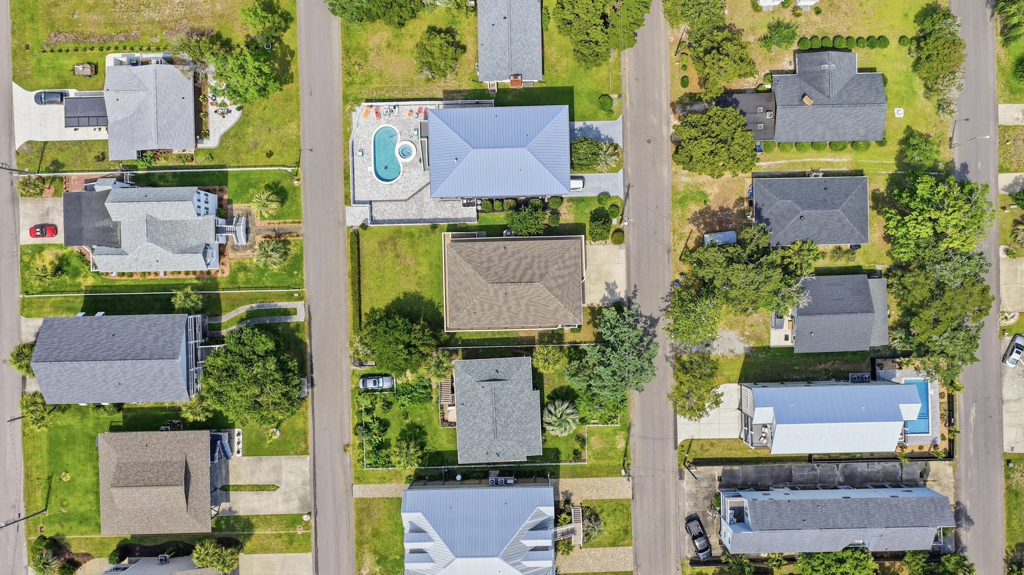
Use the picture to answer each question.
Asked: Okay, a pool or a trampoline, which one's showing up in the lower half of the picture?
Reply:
pool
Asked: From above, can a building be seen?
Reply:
Yes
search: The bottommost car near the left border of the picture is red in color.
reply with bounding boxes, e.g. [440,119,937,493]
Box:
[30,224,58,238]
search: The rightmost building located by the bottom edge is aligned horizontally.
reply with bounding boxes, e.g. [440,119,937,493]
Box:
[720,487,956,557]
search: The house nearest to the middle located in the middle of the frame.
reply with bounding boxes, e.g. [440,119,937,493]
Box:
[442,232,584,333]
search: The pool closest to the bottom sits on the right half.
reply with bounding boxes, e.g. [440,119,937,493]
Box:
[902,378,931,436]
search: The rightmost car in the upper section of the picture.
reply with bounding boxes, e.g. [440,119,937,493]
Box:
[570,178,586,192]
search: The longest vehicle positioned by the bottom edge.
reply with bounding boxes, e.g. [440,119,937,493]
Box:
[685,515,711,558]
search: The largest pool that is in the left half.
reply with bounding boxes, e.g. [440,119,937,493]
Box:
[371,124,404,184]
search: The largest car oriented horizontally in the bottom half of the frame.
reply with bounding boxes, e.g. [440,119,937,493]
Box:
[359,376,391,391]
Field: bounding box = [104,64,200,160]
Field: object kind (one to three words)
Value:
house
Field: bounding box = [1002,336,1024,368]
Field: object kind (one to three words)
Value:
car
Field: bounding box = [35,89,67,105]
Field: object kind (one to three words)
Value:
car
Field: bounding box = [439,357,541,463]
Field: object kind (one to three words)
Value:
house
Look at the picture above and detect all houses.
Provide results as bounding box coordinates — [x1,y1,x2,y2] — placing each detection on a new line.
[769,51,886,143]
[734,383,922,455]
[104,64,200,160]
[442,232,584,333]
[63,179,246,272]
[751,175,869,246]
[754,0,780,11]
[478,0,542,92]
[720,487,956,557]
[401,481,553,575]
[790,0,815,11]
[90,555,218,575]
[32,310,231,407]
[790,275,888,353]
[439,357,541,463]
[417,104,571,201]
[93,430,239,535]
